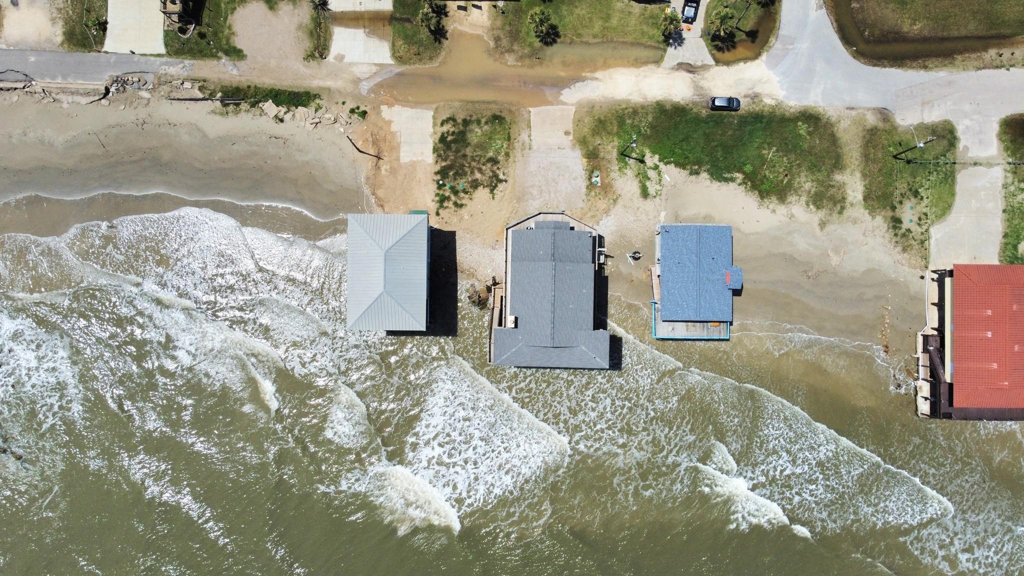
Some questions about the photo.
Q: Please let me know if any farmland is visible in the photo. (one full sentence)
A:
No, there is no farmland in the image.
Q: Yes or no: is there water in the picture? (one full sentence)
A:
Yes, the picture does contain water.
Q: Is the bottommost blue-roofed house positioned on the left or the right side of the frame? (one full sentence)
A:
The bottommost blue-roofed house appears in the right half of the scene.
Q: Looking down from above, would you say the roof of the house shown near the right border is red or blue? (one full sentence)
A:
In this view, the roof of the house shown near the right border is red.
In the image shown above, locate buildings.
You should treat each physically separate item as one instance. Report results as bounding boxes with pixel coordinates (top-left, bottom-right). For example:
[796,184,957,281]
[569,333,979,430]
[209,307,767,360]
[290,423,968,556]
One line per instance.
[648,223,742,340]
[922,264,1024,421]
[157,0,194,23]
[488,213,610,369]
[346,210,432,332]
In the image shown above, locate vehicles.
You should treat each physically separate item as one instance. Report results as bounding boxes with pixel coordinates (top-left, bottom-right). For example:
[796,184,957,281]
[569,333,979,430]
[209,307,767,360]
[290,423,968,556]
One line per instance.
[711,95,742,110]
[683,0,699,22]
